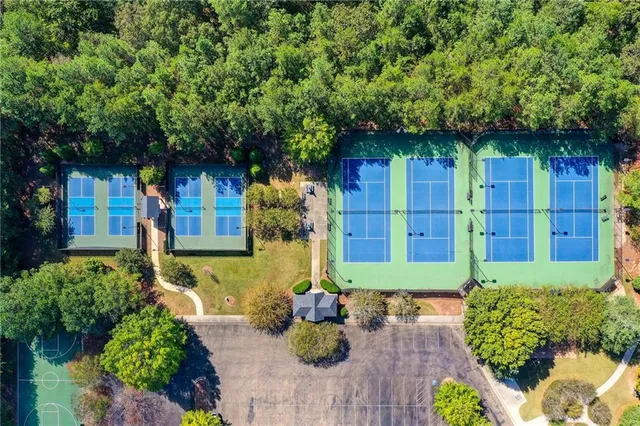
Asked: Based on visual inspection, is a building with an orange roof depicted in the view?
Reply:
No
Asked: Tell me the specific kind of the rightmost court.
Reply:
tennis court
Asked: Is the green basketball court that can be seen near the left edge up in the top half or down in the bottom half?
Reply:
bottom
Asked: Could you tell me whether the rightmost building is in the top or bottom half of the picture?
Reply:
bottom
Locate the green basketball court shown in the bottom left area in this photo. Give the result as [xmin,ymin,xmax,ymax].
[16,319,86,426]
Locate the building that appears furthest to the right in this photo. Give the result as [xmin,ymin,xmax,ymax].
[293,292,337,322]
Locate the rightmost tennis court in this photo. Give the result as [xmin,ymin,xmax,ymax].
[544,134,615,290]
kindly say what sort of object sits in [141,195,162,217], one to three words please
building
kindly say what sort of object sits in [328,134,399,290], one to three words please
tennis court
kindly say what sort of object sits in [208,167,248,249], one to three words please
sports court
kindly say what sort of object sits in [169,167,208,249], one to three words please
sports court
